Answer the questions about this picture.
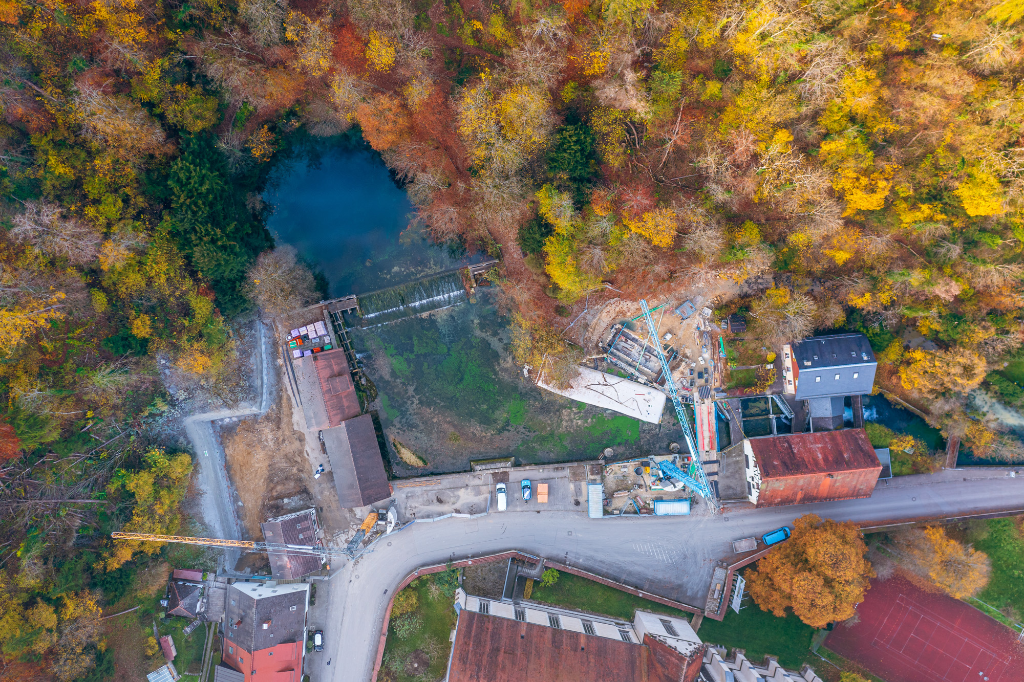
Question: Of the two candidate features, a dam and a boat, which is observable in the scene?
dam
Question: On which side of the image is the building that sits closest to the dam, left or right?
left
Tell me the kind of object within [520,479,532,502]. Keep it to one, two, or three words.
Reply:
vehicle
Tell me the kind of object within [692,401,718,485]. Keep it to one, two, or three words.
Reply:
bridge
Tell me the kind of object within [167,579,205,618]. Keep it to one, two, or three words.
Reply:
house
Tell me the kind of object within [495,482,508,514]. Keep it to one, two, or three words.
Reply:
vehicle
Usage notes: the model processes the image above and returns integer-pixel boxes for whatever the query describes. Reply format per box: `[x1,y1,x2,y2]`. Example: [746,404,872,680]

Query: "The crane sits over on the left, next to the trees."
[111,487,399,569]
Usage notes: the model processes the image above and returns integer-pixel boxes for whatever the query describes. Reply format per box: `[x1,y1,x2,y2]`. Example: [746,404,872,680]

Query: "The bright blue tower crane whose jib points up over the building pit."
[638,300,716,534]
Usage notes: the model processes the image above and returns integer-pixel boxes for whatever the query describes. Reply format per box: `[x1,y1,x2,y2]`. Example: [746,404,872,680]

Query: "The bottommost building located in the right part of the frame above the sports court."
[744,428,883,508]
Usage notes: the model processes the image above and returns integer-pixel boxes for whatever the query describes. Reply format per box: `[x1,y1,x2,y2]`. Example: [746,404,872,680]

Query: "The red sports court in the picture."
[824,569,1024,682]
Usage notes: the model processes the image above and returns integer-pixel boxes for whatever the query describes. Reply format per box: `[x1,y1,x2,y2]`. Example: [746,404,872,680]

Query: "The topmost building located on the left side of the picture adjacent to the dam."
[293,347,363,430]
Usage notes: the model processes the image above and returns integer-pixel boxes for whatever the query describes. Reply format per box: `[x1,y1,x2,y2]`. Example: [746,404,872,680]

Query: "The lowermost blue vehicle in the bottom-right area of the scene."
[761,528,791,547]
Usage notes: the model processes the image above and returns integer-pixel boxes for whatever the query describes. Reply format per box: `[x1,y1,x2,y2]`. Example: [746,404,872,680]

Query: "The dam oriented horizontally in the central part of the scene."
[355,266,469,332]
